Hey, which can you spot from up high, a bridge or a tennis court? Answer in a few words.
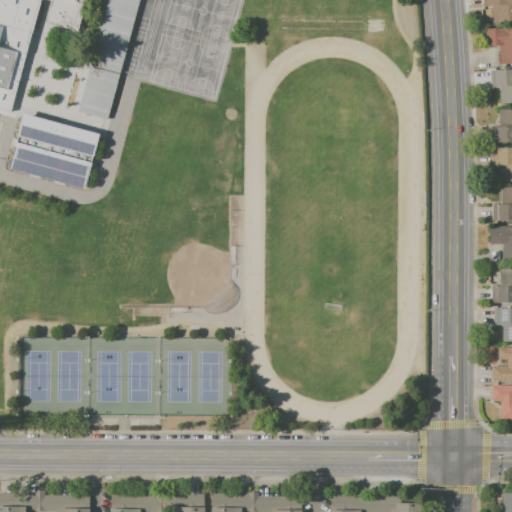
tennis court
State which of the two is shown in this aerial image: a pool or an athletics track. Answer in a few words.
athletics track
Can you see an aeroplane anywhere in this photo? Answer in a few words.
No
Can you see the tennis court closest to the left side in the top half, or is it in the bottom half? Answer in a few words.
bottom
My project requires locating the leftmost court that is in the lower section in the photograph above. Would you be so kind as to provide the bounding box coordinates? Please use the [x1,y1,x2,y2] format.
[26,351,52,402]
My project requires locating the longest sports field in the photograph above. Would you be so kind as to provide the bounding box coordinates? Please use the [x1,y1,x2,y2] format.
[266,58,398,402]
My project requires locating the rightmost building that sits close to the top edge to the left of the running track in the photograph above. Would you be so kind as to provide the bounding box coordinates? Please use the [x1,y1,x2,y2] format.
[80,0,141,118]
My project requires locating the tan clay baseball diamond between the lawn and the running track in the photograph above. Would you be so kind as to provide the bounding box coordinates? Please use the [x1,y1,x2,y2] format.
[168,243,240,313]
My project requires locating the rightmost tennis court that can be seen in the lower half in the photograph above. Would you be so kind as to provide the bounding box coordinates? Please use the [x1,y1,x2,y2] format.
[197,351,224,402]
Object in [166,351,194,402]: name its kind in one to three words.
tennis court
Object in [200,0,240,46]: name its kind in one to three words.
basketball court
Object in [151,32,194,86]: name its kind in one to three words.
basketball court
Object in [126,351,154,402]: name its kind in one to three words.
tennis court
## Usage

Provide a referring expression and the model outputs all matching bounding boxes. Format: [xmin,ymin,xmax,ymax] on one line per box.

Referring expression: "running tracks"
[245,36,419,422]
